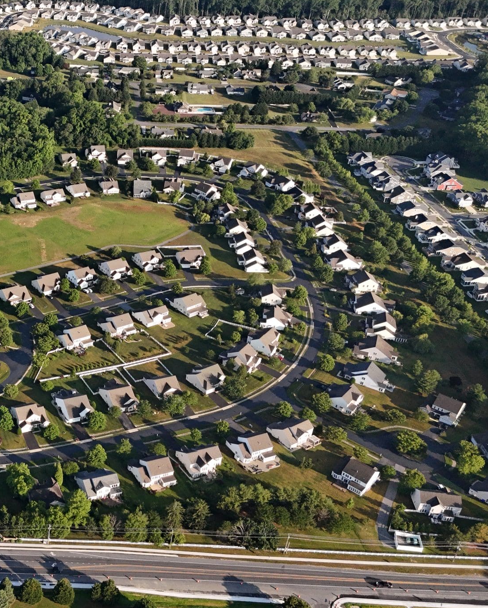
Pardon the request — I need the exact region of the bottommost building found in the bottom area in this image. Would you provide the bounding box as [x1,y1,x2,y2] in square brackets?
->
[395,535,425,553]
